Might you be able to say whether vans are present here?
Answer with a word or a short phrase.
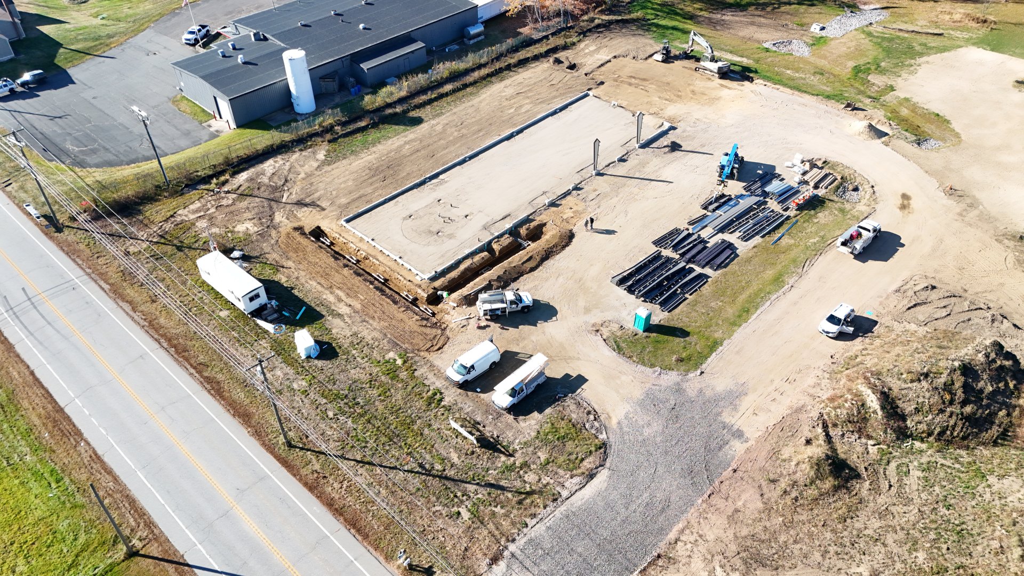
Yes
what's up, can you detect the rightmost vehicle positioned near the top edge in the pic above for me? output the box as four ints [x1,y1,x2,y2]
[687,25,729,78]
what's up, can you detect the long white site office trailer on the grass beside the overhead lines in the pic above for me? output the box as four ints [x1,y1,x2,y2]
[196,251,269,317]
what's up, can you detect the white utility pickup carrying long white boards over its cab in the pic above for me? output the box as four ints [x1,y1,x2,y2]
[490,361,547,413]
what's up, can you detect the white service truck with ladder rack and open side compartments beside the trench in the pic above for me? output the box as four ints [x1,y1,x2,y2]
[476,287,536,320]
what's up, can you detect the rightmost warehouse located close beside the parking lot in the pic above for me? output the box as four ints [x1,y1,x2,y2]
[162,0,482,128]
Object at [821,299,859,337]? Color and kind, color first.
white car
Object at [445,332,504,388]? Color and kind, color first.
white van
